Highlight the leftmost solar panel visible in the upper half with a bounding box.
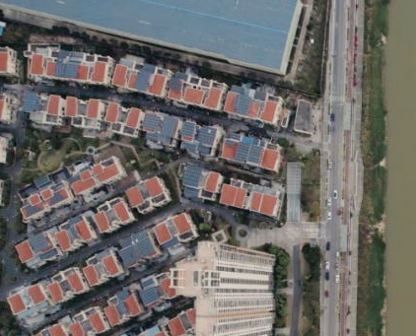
[22,91,40,111]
